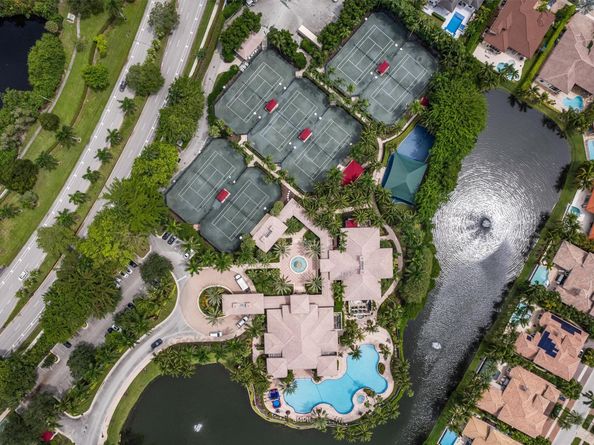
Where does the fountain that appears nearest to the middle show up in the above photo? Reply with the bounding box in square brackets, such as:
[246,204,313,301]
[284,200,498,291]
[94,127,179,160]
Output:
[291,256,307,273]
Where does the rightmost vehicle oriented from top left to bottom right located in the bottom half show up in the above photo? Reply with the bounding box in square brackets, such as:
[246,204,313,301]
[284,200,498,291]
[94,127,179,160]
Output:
[234,274,249,292]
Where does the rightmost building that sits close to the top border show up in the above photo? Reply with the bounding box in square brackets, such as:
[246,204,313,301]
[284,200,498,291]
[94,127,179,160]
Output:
[534,13,594,97]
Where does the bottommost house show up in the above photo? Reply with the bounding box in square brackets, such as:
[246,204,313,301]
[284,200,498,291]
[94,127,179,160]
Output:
[462,416,513,445]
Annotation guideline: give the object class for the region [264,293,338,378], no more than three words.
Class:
building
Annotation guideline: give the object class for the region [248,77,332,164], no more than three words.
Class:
tennis court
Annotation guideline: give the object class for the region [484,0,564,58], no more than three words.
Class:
house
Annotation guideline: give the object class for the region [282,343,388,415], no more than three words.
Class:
swimming pool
